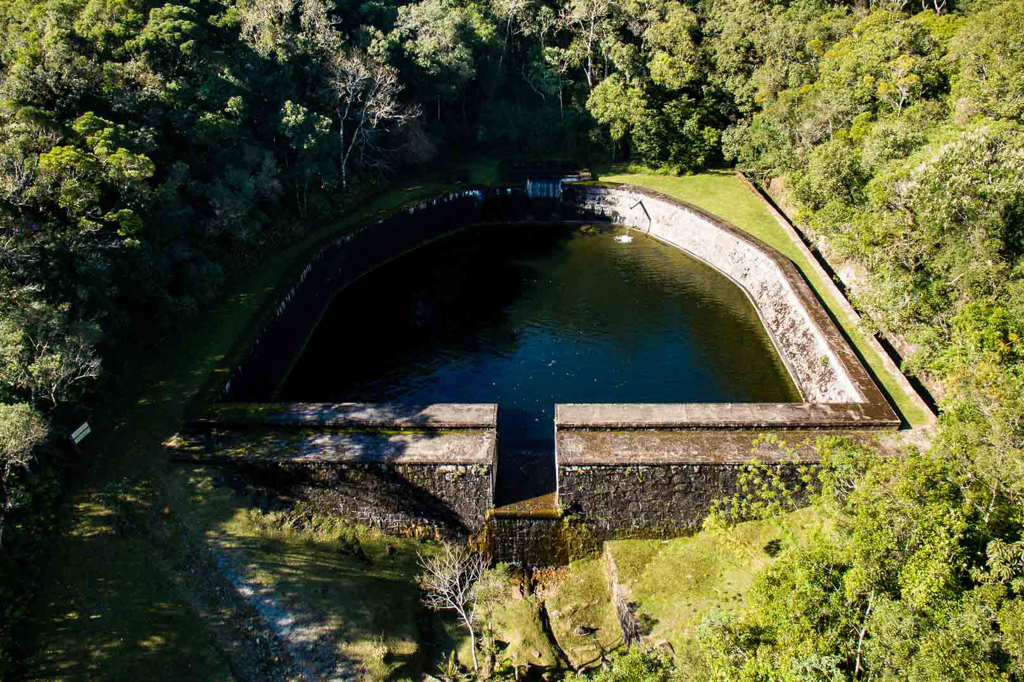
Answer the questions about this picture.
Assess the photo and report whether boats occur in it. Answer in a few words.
No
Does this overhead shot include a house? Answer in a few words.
No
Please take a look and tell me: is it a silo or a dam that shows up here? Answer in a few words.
dam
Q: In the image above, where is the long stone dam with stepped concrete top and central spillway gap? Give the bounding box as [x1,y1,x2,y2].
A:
[141,402,973,576]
